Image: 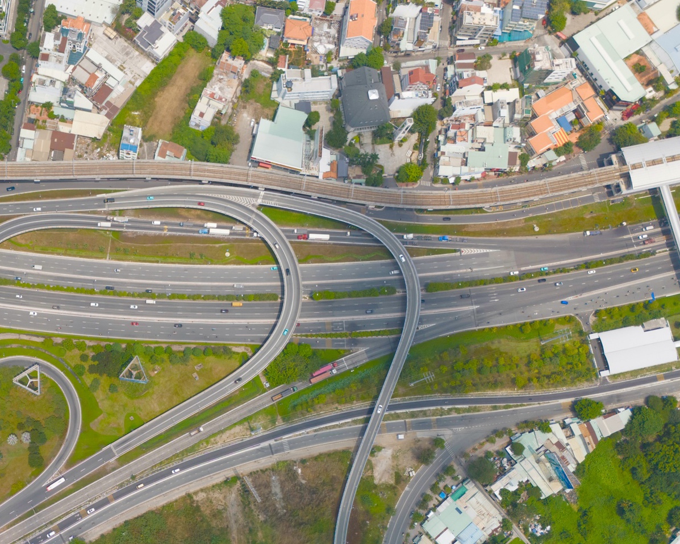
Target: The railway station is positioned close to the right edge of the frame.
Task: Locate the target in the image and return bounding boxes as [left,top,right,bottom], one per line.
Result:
[607,137,680,198]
